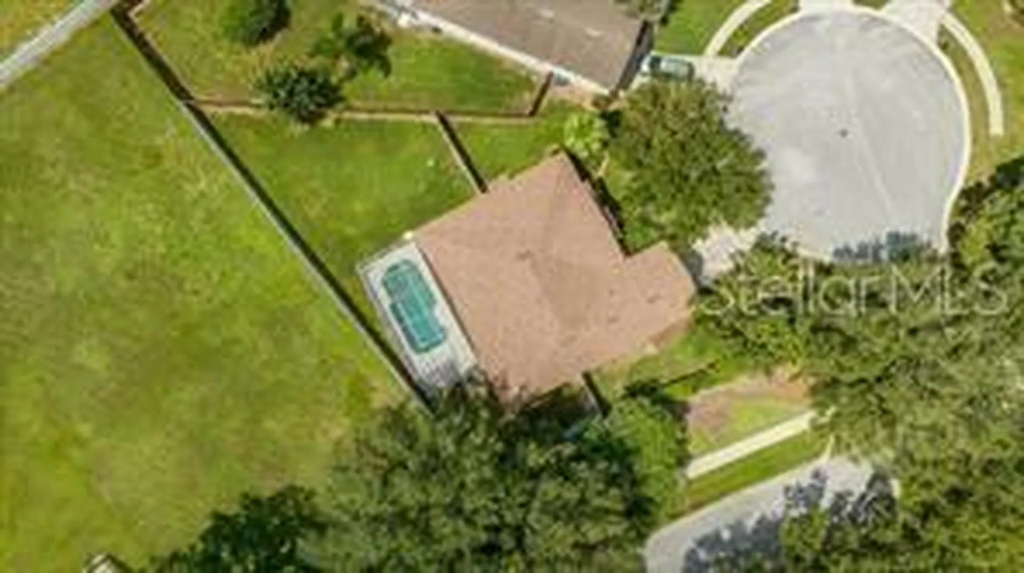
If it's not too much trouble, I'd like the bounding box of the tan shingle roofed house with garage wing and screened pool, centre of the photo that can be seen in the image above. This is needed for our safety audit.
[412,151,698,406]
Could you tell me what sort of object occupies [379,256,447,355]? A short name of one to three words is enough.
swimming pool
